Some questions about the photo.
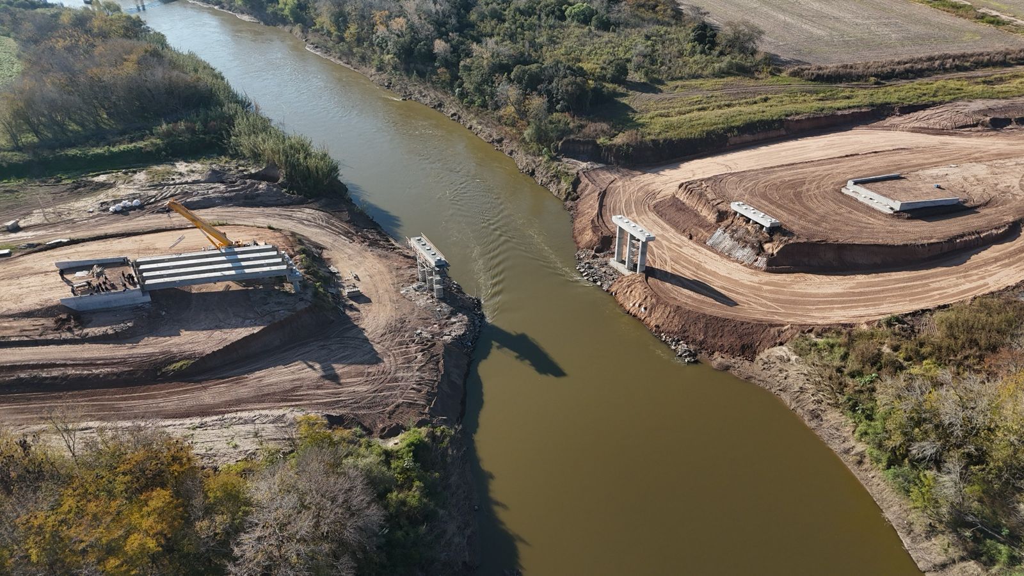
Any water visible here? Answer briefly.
Yes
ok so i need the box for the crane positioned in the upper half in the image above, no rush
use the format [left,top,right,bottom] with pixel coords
[168,202,260,251]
